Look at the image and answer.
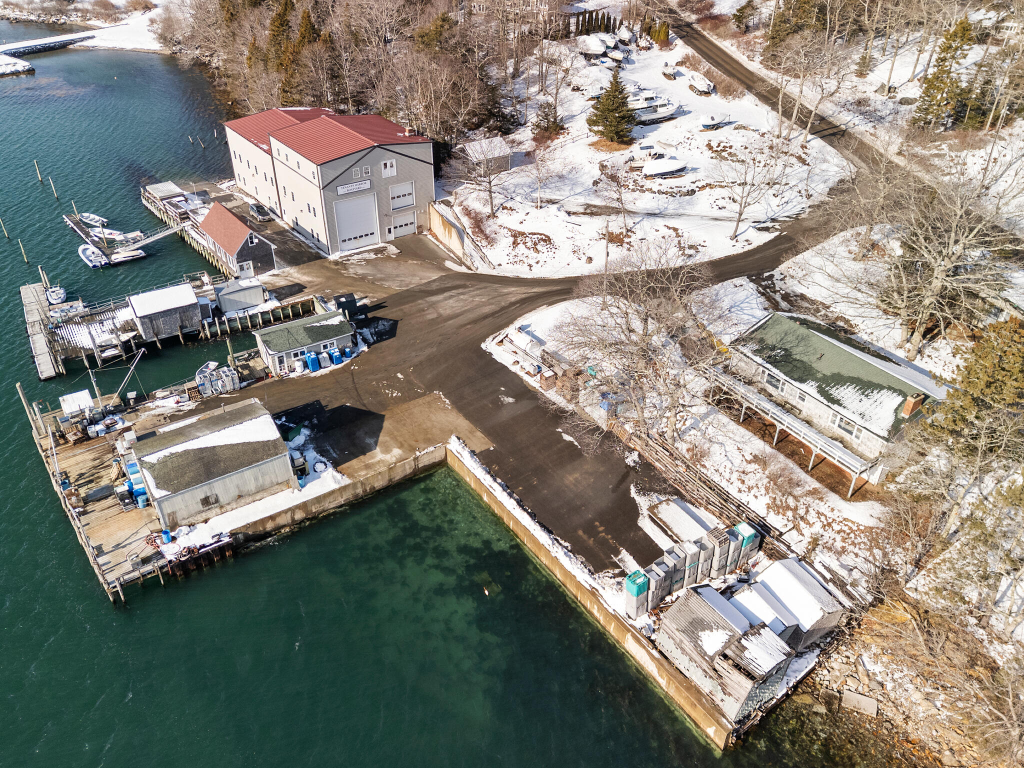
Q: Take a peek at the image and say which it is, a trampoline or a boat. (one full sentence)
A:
There is a boat in the scene.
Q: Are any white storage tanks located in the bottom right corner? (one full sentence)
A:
No, in the bottom right corner there is no white storage tank.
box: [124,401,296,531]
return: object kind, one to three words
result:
shed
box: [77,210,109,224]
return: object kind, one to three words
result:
boat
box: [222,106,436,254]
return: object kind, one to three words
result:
shed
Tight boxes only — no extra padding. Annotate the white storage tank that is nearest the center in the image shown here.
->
[503,326,539,359]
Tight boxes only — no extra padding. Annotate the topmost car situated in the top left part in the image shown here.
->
[247,197,272,218]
